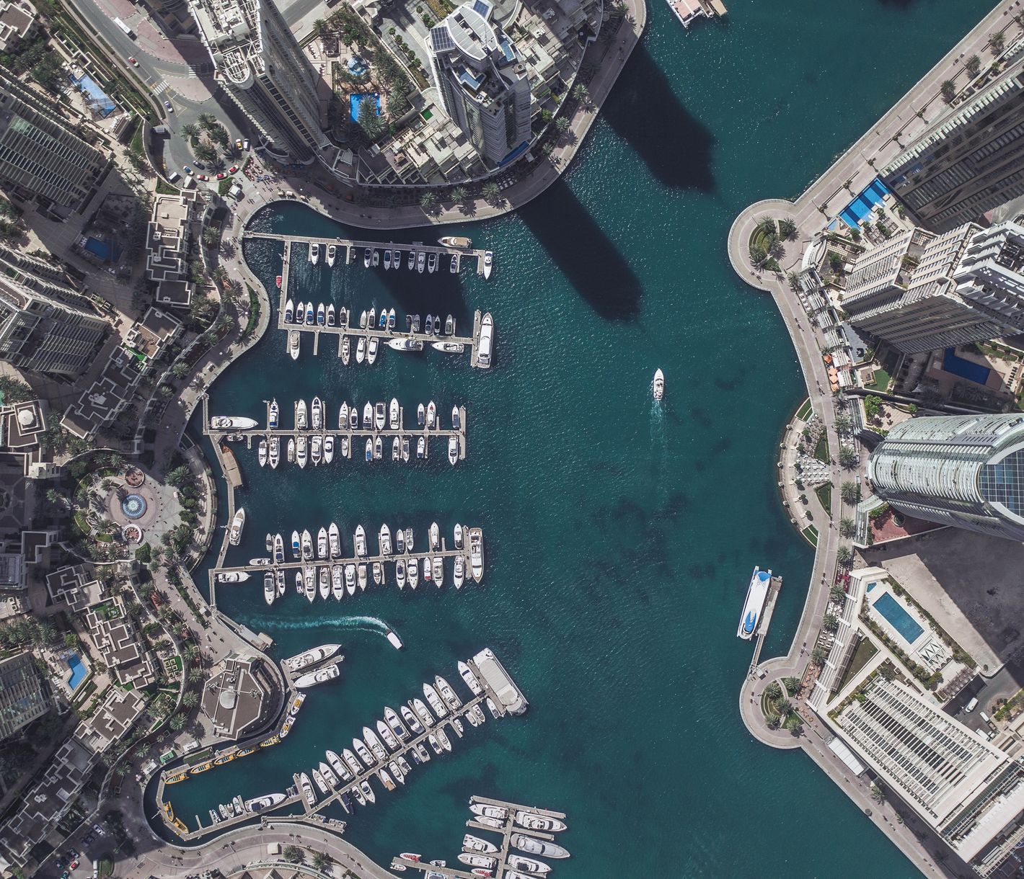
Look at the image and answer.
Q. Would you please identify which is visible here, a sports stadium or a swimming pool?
swimming pool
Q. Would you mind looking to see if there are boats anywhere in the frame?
Yes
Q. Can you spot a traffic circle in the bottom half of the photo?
No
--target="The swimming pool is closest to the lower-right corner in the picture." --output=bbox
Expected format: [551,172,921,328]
[872,591,925,646]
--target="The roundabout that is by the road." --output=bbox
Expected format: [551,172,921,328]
[188,120,232,165]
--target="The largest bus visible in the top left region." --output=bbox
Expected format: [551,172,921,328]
[112,13,133,38]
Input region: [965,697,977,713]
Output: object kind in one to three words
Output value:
vehicle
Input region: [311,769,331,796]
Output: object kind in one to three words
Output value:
boat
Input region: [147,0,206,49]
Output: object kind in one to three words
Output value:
building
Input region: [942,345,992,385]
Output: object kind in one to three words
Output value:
swimming pool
